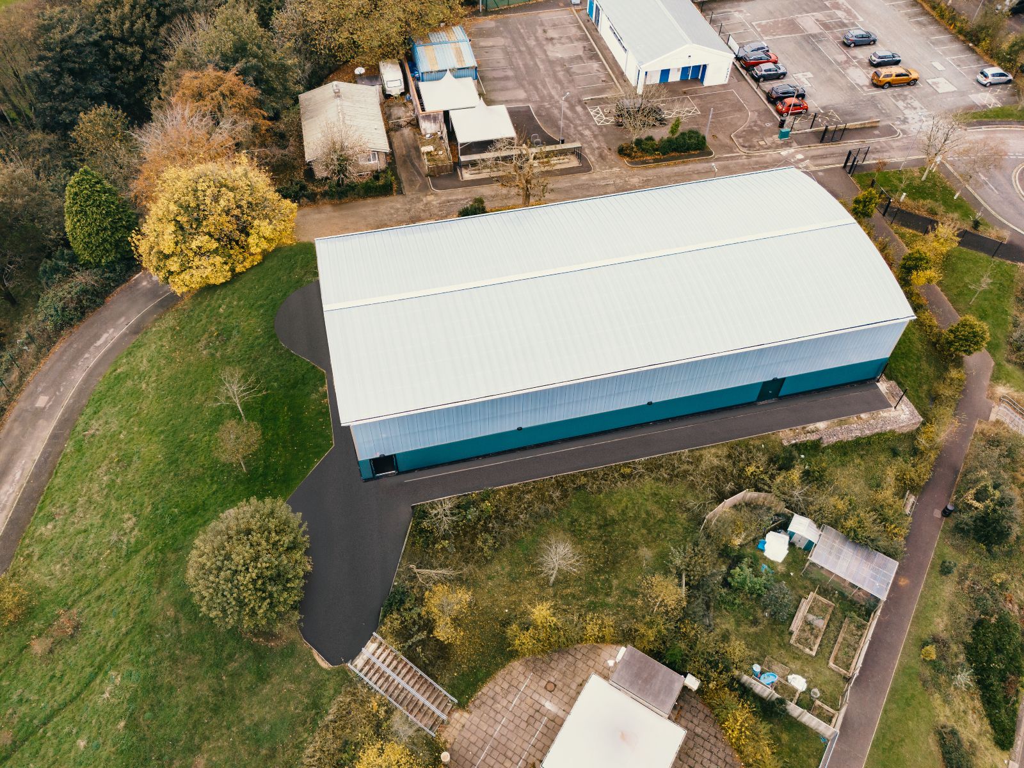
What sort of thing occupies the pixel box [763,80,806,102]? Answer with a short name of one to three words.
car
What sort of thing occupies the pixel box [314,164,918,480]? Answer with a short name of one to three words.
building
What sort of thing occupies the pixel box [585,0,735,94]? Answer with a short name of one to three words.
building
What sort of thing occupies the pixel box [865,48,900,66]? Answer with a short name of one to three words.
car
